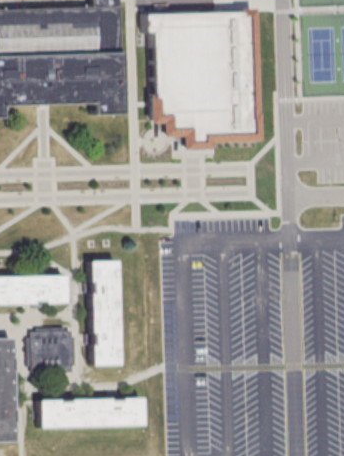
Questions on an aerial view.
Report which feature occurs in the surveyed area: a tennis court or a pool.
tennis court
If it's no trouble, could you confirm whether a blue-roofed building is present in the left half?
No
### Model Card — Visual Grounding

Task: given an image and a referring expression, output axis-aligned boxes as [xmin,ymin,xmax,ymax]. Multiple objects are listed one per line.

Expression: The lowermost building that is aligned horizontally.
[37,396,148,430]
